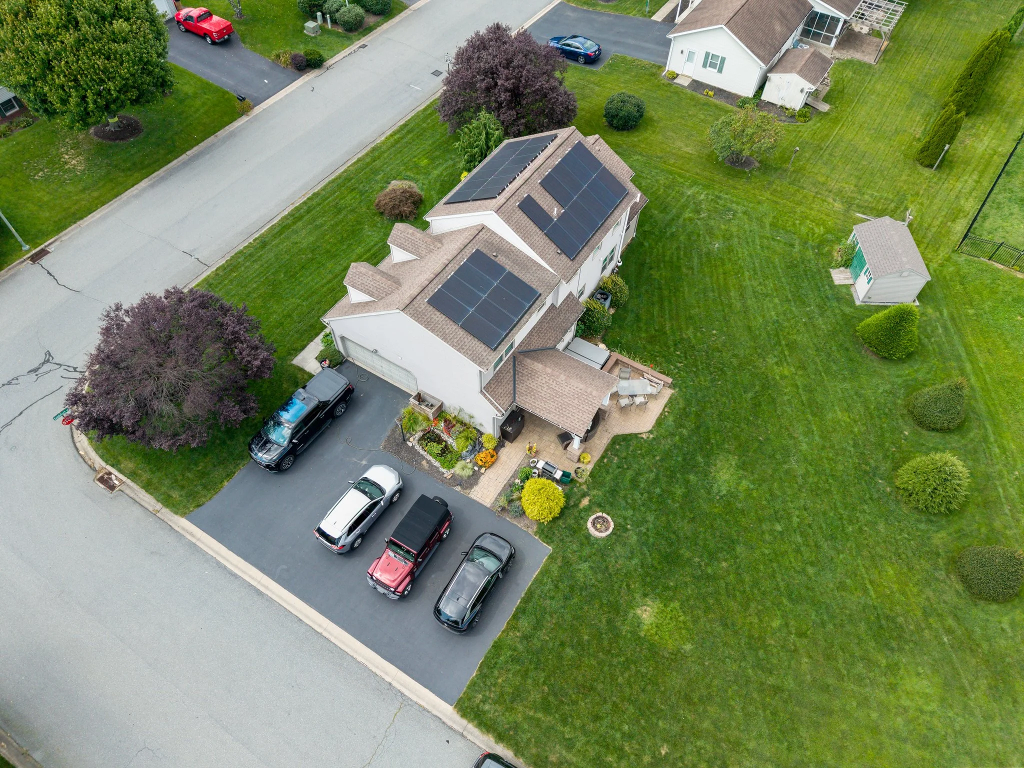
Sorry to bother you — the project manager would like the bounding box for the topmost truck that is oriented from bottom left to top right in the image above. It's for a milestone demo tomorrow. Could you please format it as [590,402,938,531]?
[244,369,354,474]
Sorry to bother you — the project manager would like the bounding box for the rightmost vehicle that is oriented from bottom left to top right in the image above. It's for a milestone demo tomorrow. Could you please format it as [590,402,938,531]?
[429,527,517,636]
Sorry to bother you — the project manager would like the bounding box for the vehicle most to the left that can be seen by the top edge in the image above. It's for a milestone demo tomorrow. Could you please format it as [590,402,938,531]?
[173,5,236,44]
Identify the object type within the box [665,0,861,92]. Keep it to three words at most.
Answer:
house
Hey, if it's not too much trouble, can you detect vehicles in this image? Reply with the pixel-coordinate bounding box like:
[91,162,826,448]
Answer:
[364,498,452,600]
[429,527,517,636]
[244,369,354,474]
[468,749,510,768]
[314,463,403,556]
[542,31,602,63]
[173,5,236,44]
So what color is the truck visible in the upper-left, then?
red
